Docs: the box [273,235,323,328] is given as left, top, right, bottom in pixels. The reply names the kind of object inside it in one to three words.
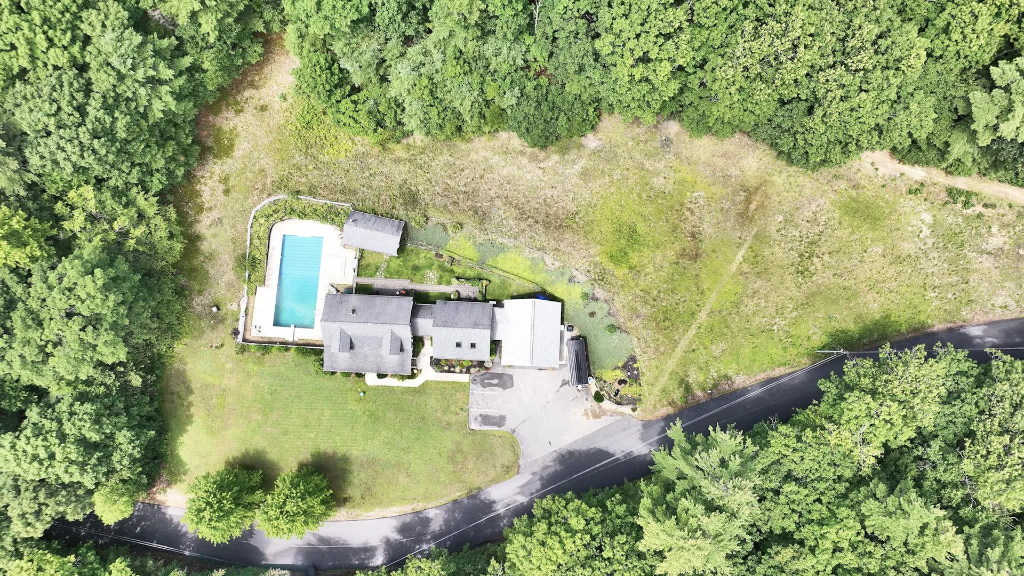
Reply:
swimming pool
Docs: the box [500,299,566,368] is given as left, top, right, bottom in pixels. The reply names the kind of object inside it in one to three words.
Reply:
building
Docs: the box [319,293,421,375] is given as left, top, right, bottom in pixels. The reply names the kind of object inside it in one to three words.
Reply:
house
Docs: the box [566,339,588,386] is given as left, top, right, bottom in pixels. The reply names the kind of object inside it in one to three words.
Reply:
shed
